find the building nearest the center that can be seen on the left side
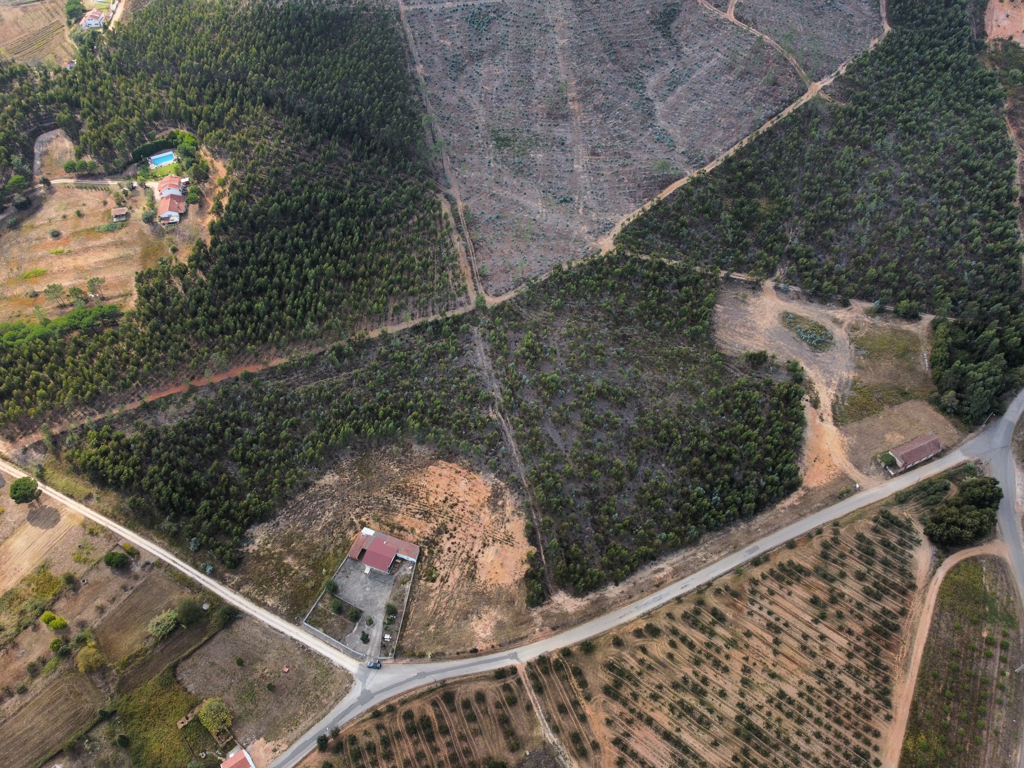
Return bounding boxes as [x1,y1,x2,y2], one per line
[347,527,421,575]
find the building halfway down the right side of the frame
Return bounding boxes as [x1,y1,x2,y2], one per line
[876,435,942,476]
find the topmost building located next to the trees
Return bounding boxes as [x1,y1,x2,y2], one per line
[80,8,114,28]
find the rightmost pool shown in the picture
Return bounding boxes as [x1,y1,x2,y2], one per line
[152,153,175,165]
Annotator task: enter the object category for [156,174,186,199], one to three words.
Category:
house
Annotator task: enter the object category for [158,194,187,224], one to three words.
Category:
house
